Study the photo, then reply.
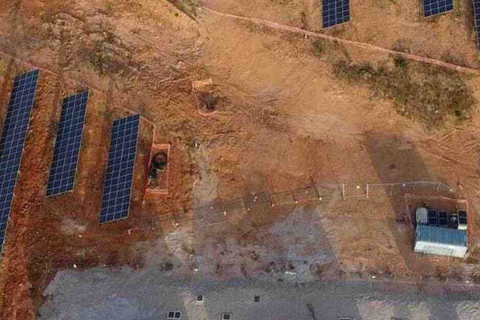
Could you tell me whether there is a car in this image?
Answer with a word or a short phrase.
No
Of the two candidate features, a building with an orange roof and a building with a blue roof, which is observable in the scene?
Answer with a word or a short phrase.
building with a blue roof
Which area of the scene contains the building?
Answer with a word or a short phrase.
bottom right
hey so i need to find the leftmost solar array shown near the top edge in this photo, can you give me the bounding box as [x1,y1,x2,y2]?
[322,0,352,29]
